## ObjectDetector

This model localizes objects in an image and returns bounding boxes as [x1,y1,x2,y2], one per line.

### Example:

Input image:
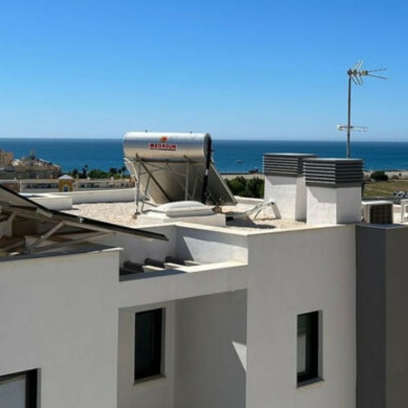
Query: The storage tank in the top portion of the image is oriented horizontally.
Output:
[118,132,206,160]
